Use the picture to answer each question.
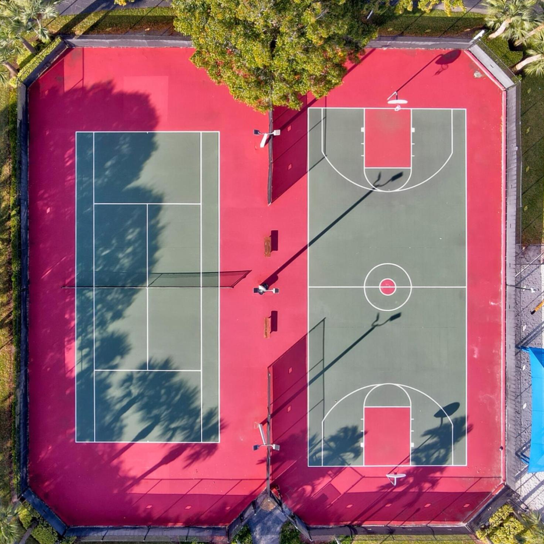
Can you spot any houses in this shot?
No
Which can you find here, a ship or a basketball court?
basketball court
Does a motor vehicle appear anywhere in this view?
No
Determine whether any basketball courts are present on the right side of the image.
Yes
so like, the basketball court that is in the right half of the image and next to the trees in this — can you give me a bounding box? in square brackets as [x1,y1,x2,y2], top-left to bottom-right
[269,48,506,526]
